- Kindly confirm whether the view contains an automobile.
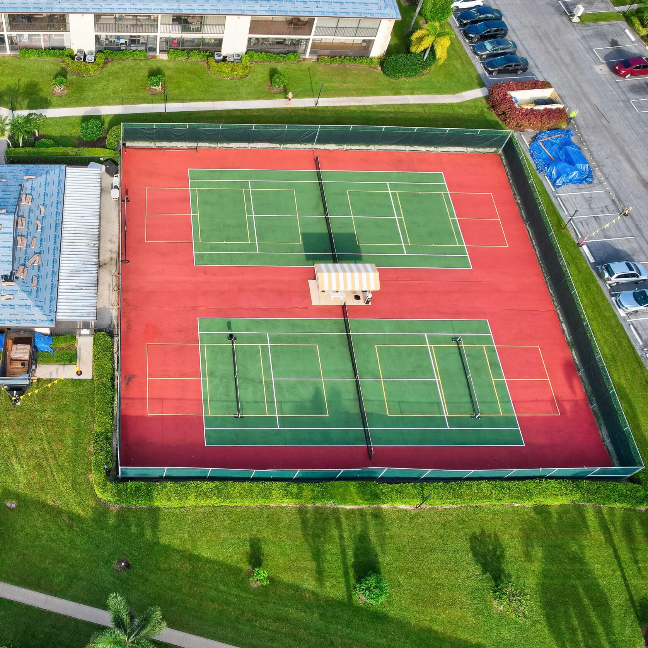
Yes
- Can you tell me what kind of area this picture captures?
sports ground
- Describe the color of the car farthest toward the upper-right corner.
red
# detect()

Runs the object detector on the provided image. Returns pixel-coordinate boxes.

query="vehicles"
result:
[463,16,510,43]
[447,0,486,11]
[614,56,648,78]
[597,258,648,287]
[471,35,520,59]
[616,289,648,315]
[460,7,508,27]
[481,53,532,75]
